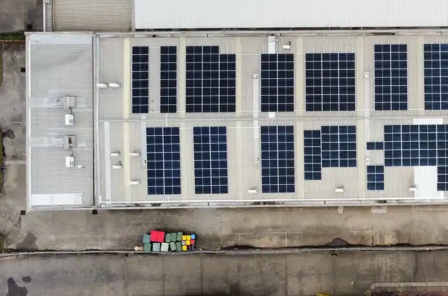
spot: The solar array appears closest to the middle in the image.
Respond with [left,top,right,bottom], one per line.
[193,125,228,194]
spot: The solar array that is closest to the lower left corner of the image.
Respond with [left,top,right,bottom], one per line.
[145,126,181,194]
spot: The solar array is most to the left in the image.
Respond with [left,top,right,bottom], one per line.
[131,45,148,114]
